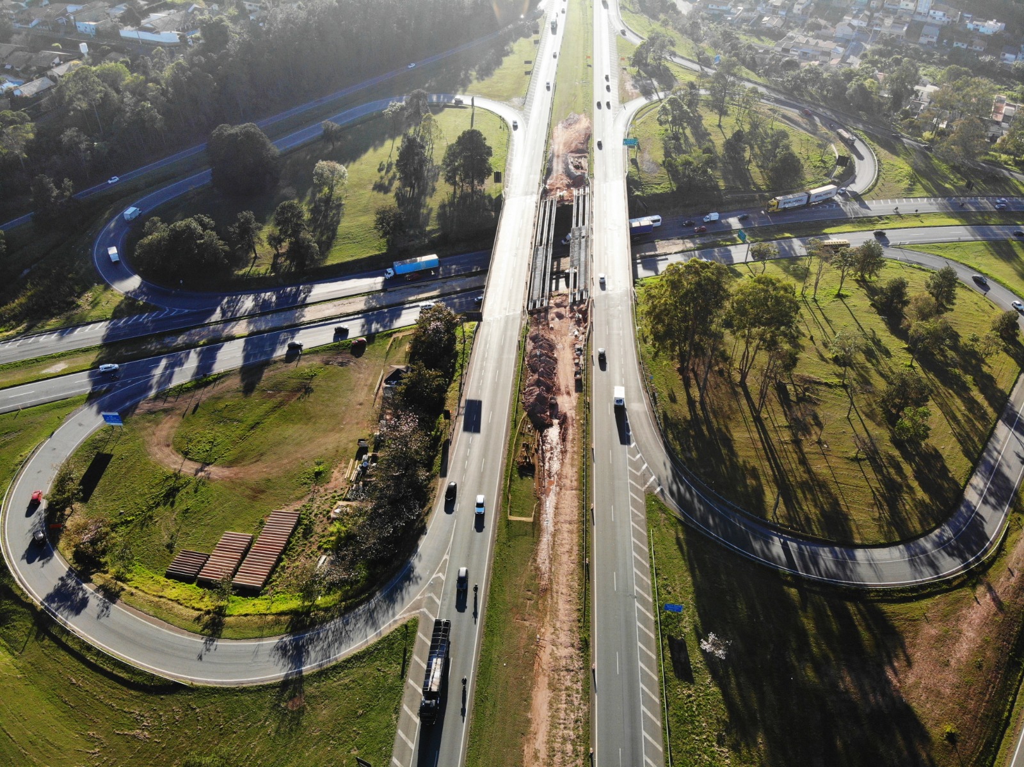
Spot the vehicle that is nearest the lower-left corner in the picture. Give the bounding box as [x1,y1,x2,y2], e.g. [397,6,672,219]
[30,527,46,545]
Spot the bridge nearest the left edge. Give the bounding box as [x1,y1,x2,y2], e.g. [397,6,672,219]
[477,189,541,320]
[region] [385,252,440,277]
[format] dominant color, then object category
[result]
blue truck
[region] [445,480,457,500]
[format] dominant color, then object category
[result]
black vehicle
